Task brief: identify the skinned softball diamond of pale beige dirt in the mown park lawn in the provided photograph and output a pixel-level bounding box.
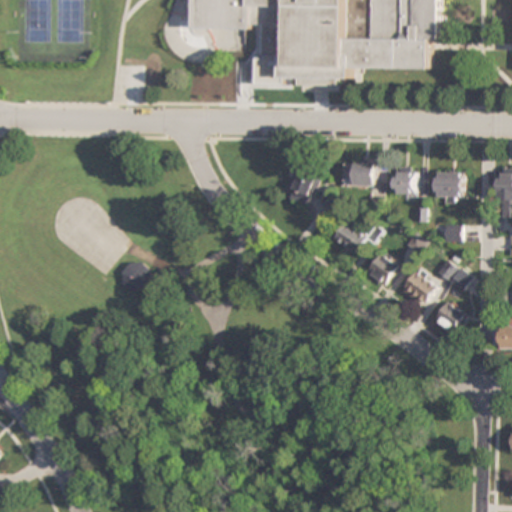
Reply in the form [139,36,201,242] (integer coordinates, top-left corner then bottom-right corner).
[56,198,128,274]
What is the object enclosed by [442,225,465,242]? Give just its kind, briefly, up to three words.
building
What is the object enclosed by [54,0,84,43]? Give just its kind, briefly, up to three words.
tennis court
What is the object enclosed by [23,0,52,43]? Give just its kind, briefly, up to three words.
tennis court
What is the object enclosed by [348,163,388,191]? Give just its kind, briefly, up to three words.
house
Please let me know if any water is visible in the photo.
No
